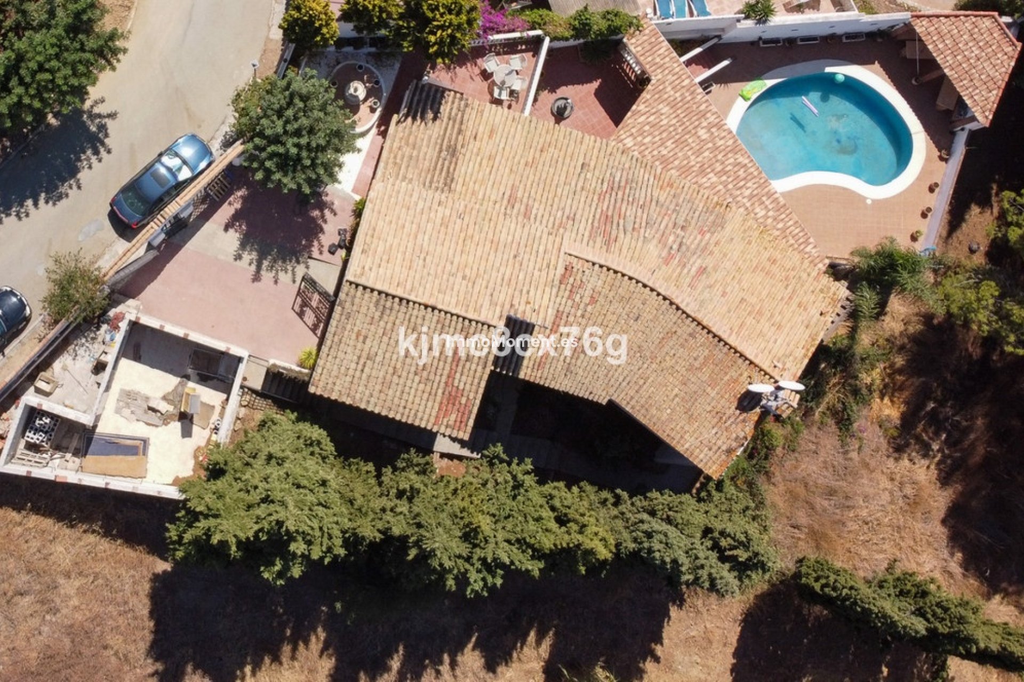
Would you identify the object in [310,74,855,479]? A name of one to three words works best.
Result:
house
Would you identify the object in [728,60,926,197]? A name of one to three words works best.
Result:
swimming pool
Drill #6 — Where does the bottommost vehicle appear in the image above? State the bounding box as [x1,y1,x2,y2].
[0,281,33,342]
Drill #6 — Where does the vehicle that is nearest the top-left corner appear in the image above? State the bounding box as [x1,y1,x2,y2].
[103,132,210,225]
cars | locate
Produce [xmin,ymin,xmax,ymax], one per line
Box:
[103,132,210,225]
[0,281,33,342]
